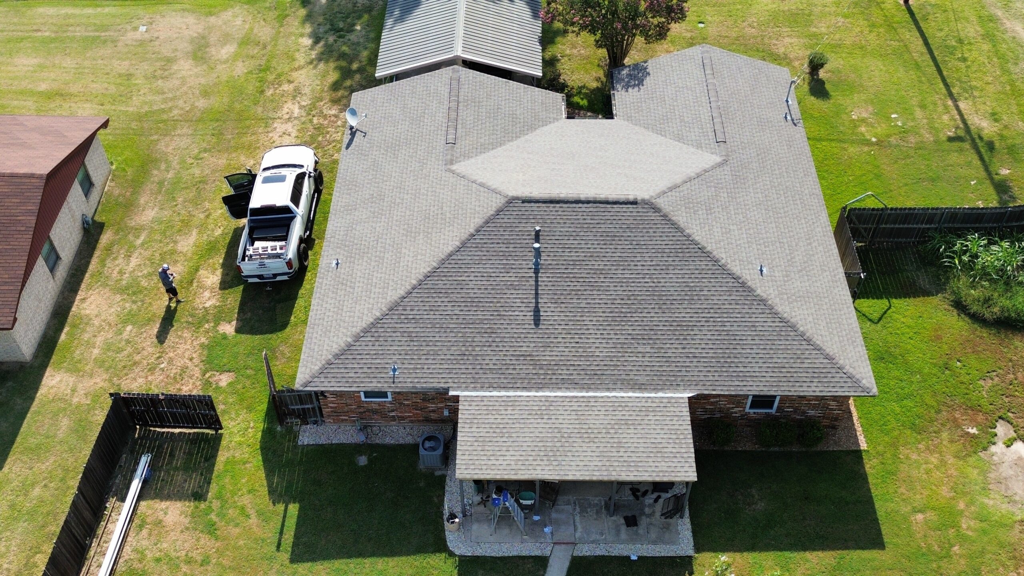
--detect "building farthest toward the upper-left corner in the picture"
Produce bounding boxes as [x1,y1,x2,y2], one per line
[0,115,107,363]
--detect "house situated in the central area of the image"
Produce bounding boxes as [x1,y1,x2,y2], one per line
[293,45,879,430]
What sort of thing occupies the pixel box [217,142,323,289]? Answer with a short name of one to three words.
truck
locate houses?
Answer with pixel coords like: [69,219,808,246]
[0,115,107,363]
[293,45,879,430]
